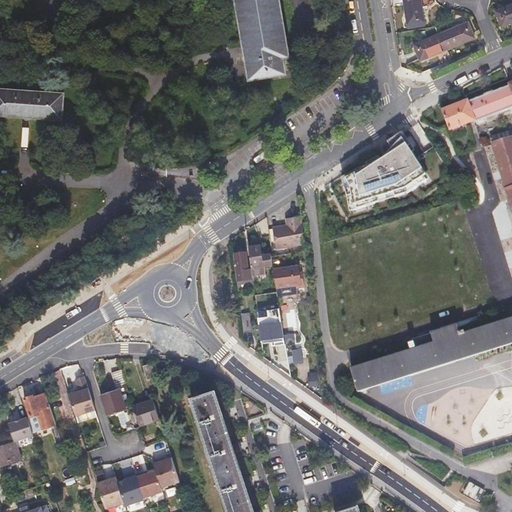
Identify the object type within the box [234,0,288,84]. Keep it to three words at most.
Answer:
building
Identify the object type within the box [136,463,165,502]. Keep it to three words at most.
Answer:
house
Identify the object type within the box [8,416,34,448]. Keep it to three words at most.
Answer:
house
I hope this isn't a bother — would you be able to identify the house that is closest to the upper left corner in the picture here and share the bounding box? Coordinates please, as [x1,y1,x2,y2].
[0,88,64,122]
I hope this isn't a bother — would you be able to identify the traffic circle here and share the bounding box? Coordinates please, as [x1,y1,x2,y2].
[112,240,232,364]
